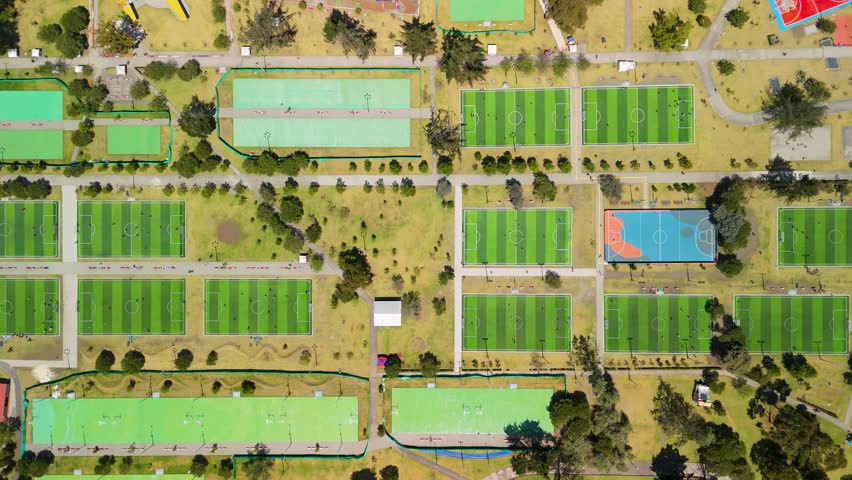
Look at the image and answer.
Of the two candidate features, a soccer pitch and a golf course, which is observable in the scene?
soccer pitch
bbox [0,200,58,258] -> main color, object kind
green soccer field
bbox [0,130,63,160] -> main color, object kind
green sports field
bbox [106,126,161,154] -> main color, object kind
green sports field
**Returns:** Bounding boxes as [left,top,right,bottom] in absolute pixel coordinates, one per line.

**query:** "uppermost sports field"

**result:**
[450,0,524,21]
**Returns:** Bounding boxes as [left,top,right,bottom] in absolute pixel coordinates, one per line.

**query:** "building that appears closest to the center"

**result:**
[374,300,401,326]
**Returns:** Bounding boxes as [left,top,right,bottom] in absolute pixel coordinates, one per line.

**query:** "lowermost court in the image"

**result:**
[603,210,720,265]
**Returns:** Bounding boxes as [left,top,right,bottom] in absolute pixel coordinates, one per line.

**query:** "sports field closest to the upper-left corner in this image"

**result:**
[0,91,63,120]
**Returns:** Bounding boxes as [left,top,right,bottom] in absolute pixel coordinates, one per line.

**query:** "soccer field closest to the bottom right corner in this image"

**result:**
[734,295,850,354]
